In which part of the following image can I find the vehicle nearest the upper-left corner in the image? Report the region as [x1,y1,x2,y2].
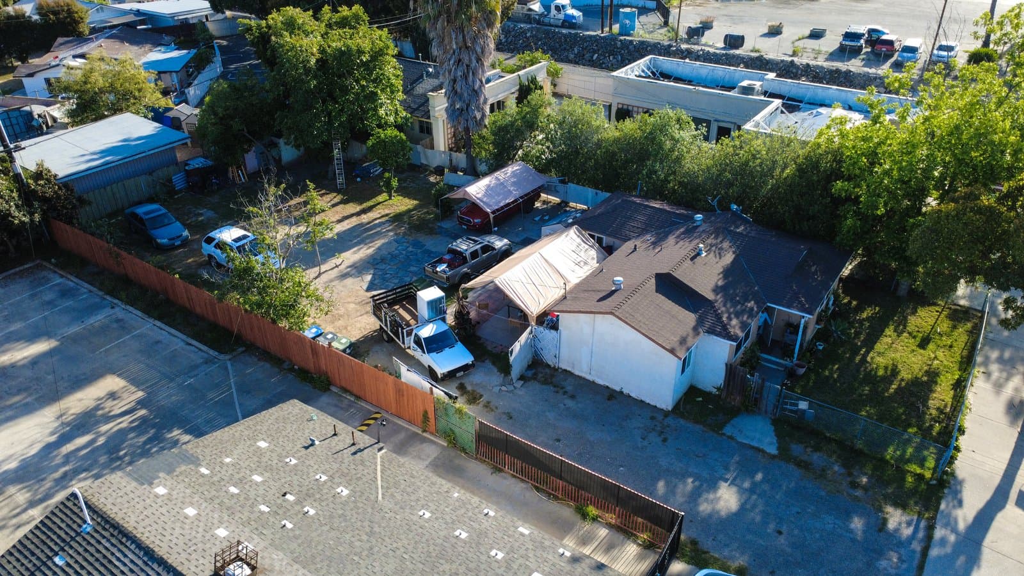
[117,203,191,250]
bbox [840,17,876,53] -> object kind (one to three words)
car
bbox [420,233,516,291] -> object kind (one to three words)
truck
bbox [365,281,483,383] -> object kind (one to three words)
truck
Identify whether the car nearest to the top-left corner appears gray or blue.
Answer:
blue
